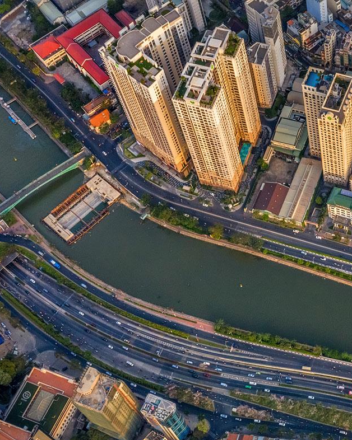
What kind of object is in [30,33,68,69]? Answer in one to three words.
building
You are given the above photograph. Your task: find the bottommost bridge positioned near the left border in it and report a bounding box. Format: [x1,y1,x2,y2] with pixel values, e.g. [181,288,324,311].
[0,151,101,211]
